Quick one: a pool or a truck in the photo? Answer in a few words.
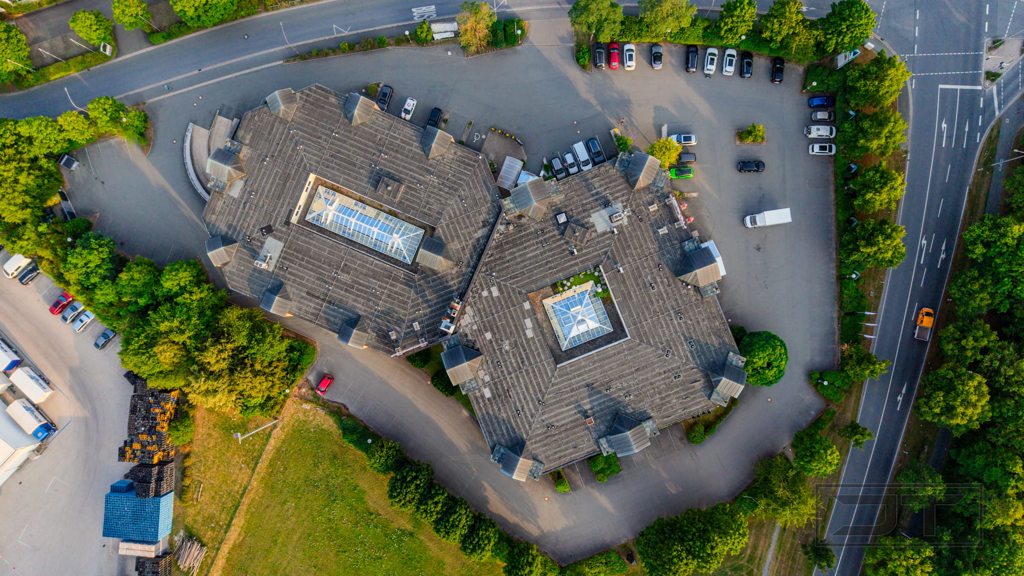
truck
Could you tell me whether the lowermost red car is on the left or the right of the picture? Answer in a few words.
left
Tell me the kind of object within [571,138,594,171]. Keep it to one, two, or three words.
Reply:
vehicle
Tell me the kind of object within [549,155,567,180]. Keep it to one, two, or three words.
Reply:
car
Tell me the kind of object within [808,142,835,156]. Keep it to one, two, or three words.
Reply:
car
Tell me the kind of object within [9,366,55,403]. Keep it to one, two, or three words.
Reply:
truck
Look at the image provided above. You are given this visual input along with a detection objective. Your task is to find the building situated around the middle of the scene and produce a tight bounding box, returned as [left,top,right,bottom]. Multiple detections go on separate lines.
[201,82,747,482]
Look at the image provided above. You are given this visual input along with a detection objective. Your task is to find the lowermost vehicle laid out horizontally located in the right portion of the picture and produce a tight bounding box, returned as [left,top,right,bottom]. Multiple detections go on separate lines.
[742,208,794,227]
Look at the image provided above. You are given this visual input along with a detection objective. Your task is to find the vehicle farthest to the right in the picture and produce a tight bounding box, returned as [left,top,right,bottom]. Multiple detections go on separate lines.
[913,306,937,342]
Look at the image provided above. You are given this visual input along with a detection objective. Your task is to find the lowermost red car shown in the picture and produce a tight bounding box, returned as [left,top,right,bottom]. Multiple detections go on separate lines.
[315,372,335,397]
